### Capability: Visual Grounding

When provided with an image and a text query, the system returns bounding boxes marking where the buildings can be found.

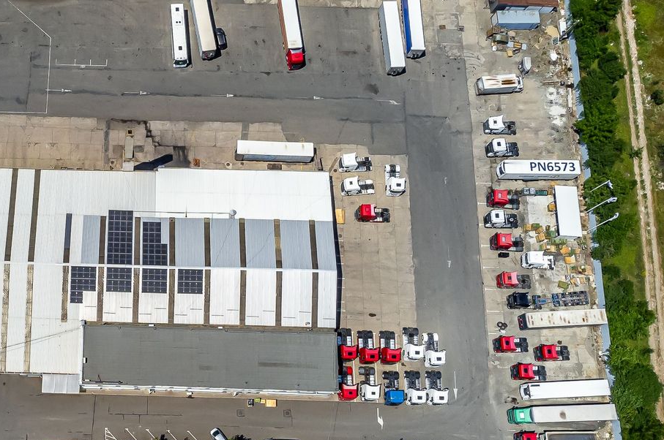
[489,0,559,15]
[0,167,338,379]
